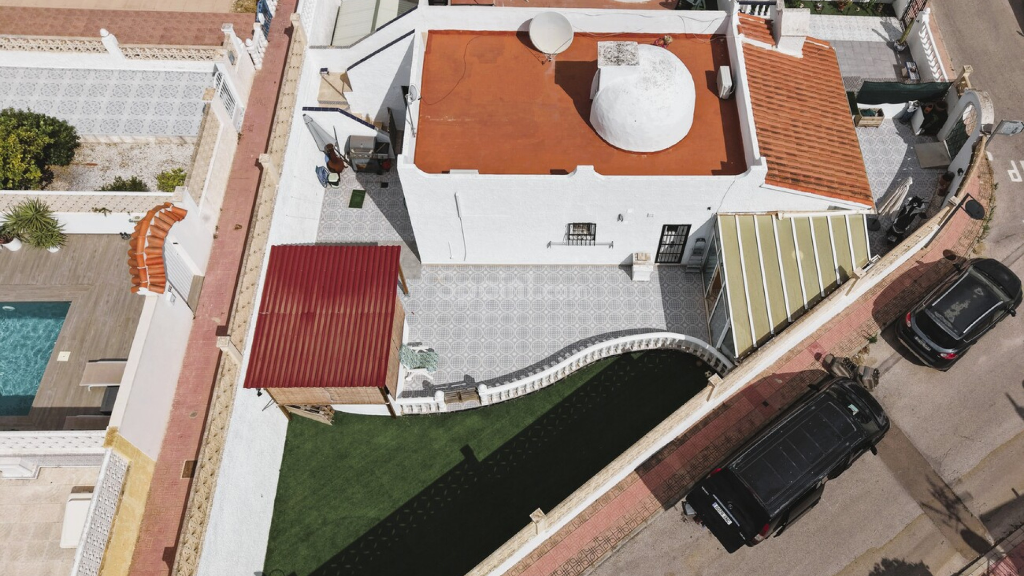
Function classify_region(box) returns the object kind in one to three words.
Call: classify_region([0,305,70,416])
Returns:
swimming pool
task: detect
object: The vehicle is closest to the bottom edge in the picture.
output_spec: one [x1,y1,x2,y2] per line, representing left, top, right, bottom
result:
[686,386,893,545]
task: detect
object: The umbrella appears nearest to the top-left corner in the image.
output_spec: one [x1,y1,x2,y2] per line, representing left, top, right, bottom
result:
[305,115,357,176]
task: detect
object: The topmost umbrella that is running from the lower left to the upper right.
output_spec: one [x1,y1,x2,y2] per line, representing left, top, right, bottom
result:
[867,184,904,234]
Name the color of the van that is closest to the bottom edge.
black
